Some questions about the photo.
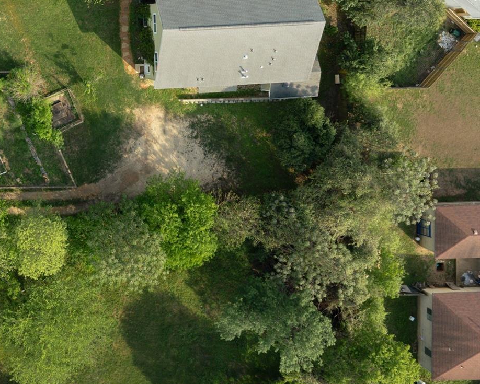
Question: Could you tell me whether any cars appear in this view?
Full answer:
No, I can't see a single car in this photo.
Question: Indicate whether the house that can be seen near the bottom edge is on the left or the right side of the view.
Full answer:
The house that can be seen near the bottom edge is on the right side of the image.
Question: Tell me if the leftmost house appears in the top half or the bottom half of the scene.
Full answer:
The leftmost house sits in the top half of the picture.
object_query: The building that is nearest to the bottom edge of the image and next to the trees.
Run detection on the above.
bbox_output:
[418,288,480,381]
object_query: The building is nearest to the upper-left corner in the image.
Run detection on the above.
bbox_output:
[131,0,325,100]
